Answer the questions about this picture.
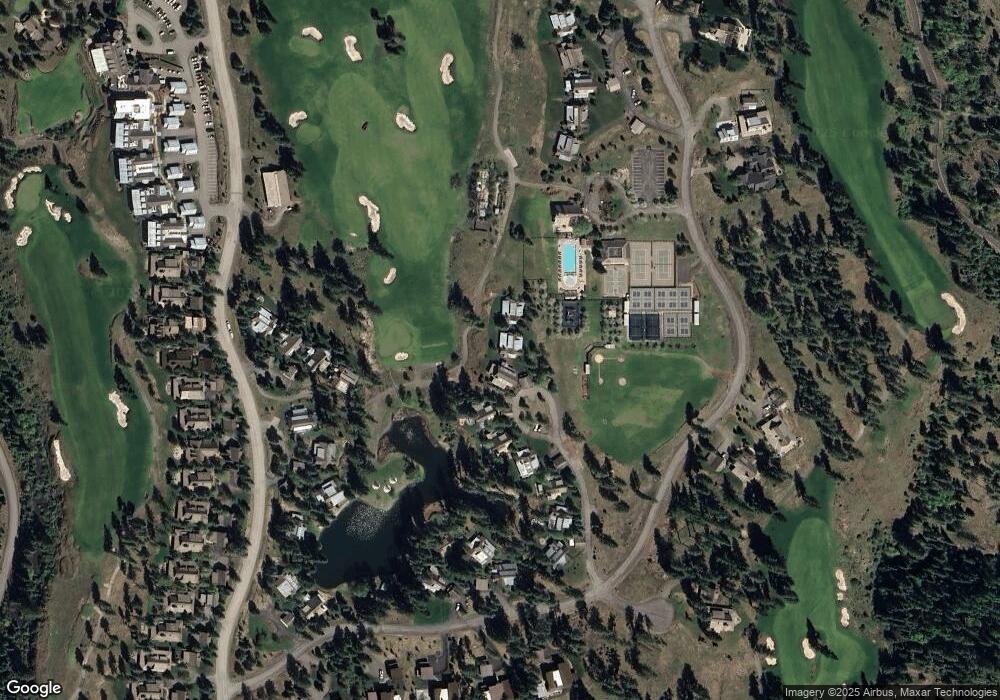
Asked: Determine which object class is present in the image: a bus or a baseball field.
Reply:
baseball field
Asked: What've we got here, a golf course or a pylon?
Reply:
golf course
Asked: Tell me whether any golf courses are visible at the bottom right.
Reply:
Yes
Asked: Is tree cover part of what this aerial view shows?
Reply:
Yes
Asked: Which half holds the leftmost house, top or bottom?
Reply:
top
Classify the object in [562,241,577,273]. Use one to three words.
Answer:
swimming pool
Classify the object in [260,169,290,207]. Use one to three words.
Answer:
barn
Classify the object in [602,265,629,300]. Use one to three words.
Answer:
tennis court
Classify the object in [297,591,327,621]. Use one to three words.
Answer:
house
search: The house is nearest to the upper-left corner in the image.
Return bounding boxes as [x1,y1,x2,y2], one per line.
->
[12,19,42,42]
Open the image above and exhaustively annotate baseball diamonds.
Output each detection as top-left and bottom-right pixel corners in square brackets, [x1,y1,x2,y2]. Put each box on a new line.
[581,346,718,462]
